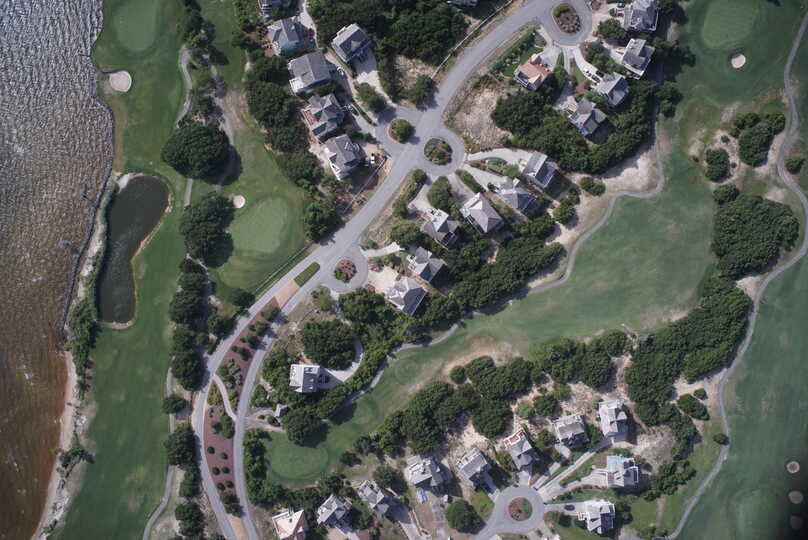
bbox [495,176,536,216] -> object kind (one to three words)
house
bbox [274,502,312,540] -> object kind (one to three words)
house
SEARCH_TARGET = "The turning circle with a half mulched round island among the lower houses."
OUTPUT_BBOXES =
[496,484,545,534]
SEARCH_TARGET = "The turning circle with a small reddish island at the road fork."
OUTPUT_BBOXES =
[322,247,369,294]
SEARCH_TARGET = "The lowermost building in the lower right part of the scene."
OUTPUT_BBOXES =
[578,497,615,531]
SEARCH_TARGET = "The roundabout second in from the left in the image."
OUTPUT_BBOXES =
[375,105,425,156]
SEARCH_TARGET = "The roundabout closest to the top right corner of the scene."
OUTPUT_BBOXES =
[537,0,593,46]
